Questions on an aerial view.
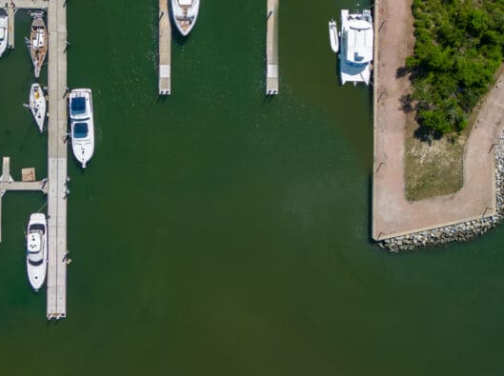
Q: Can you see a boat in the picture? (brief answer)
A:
Yes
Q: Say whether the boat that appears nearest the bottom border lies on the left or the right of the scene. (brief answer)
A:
left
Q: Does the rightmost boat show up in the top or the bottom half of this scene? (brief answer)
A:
top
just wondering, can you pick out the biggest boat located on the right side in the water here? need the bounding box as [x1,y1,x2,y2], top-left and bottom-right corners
[339,10,373,85]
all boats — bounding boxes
[30,20,46,73]
[171,0,200,36]
[29,84,46,130]
[339,10,373,85]
[28,206,50,291]
[328,18,339,52]
[0,17,9,57]
[66,89,94,169]
[29,10,44,15]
